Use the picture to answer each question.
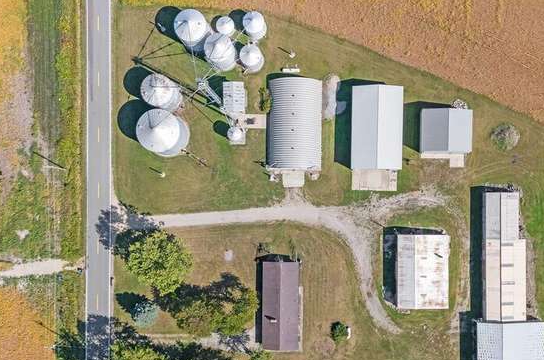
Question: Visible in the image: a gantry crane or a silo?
silo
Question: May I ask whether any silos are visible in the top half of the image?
Yes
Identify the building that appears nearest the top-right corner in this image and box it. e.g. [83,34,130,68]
[418,107,473,153]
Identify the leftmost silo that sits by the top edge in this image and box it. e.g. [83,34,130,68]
[174,11,213,59]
